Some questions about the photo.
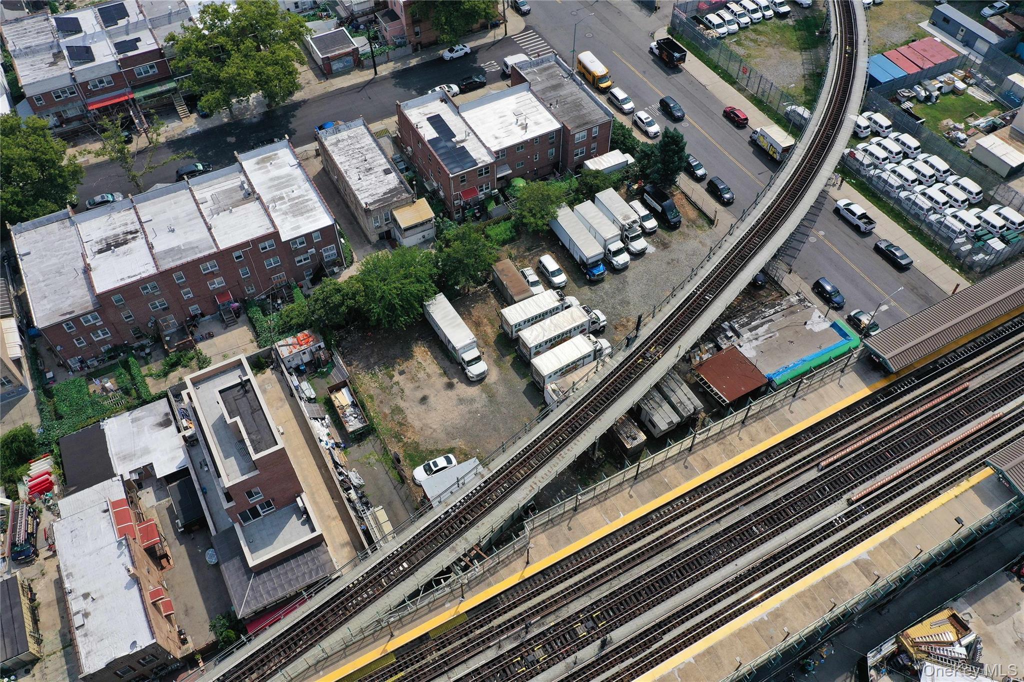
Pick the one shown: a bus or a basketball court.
bus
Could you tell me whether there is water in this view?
No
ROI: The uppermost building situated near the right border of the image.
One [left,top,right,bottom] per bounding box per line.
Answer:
[928,3,1003,58]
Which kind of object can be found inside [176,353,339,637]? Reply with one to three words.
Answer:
building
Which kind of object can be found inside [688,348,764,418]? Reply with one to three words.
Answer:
shed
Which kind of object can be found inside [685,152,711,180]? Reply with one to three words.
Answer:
car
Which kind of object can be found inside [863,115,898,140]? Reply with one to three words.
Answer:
vehicle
